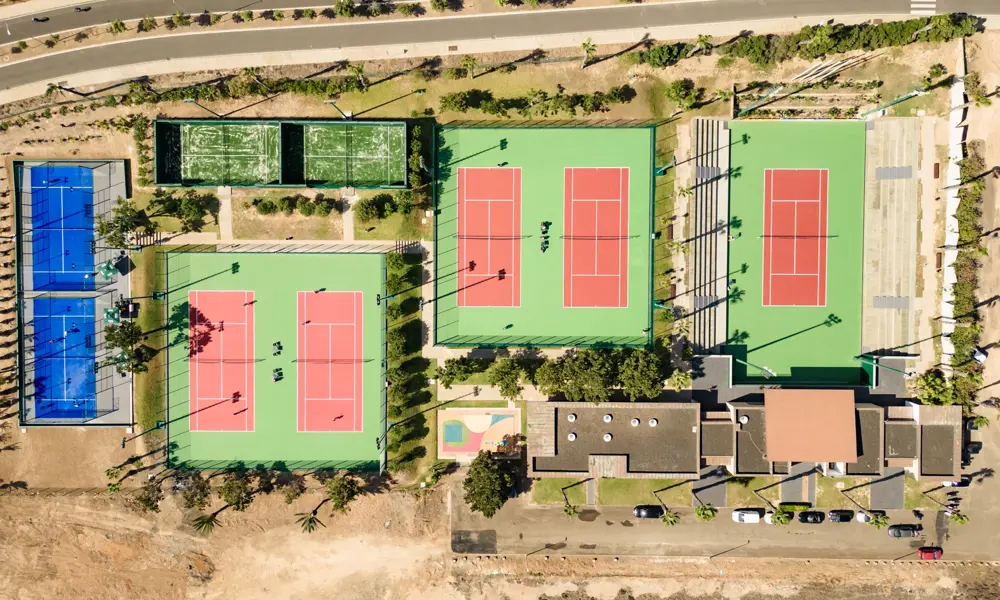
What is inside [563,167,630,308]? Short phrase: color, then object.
red tennis court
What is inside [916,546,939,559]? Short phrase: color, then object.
red vehicle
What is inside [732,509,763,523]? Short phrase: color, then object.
white vehicle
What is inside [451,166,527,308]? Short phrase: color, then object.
red tennis court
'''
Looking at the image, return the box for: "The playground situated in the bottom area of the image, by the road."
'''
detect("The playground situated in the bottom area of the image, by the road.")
[438,408,521,458]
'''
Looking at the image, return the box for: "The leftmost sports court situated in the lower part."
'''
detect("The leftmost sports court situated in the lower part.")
[5,297,97,425]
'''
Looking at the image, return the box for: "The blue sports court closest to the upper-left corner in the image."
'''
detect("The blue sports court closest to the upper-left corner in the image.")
[2,162,95,292]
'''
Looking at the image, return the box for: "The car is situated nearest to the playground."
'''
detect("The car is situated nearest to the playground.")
[634,504,661,518]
